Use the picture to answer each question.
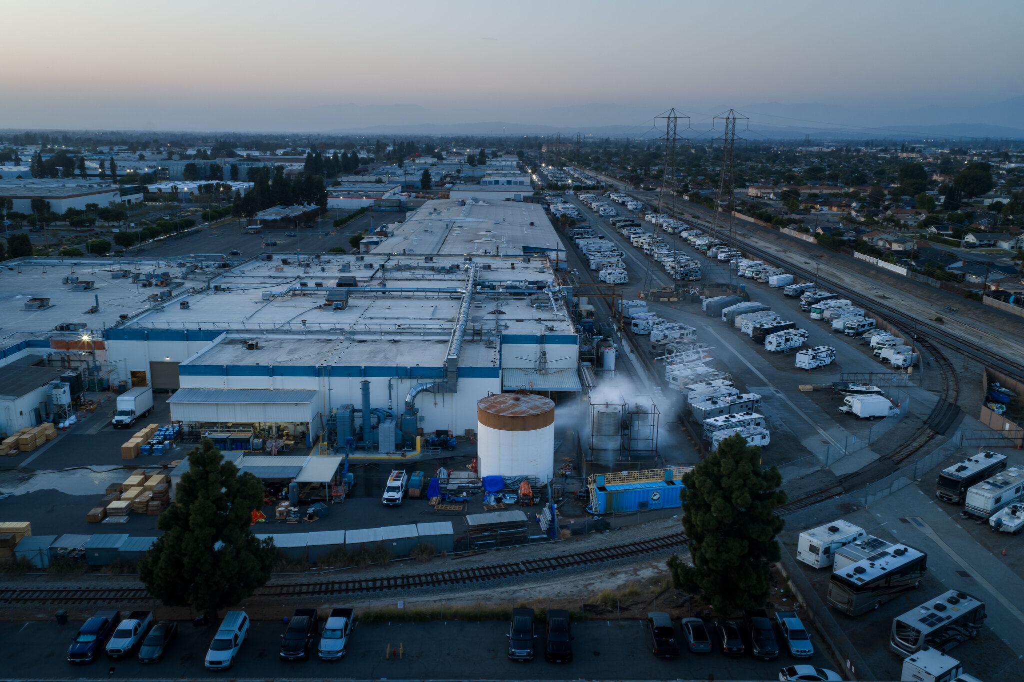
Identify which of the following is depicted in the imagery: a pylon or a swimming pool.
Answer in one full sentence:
There is a pylon in the scene.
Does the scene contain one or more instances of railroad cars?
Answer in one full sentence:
No, there isn't any railroad car down there.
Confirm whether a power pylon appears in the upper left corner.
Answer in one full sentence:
No, looking in the upper left corner, there is no power pylon.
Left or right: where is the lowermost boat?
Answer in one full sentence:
It is on the right.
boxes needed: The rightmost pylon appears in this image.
[701,109,759,296]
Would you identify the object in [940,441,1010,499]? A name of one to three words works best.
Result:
camper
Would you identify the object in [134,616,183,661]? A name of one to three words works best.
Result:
car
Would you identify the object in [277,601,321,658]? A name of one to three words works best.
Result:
truck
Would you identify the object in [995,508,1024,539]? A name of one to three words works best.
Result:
boat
